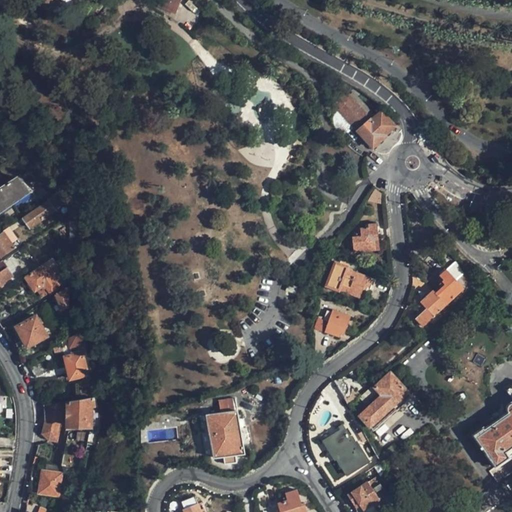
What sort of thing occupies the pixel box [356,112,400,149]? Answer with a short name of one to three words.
house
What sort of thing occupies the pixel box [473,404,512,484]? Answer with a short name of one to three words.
building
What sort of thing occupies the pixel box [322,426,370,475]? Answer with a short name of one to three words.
building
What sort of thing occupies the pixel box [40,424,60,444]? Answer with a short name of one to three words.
house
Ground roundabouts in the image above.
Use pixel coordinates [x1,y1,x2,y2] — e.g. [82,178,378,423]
[366,139,469,199]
